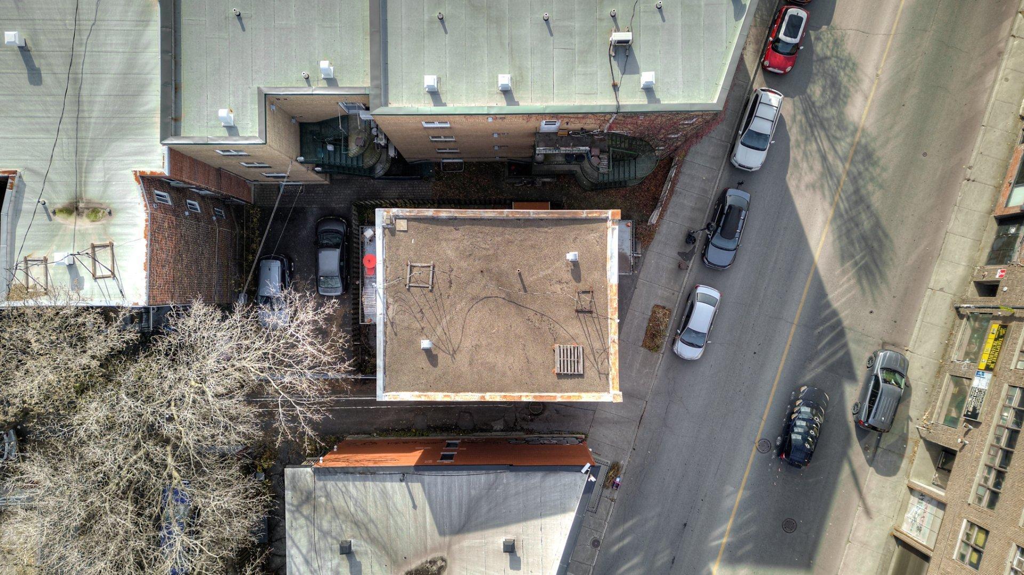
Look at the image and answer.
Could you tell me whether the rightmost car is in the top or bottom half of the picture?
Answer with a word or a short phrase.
bottom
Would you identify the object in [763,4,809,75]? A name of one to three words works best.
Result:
car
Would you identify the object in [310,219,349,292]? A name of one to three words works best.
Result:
car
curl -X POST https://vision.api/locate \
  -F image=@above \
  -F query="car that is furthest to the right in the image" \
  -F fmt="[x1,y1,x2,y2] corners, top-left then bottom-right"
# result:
[851,349,909,430]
